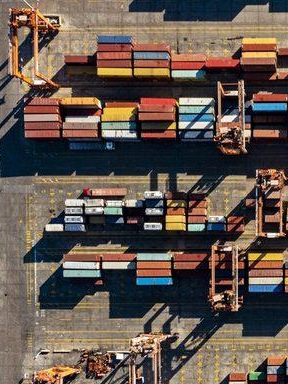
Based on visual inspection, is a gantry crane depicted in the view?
Yes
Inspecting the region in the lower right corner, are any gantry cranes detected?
Yes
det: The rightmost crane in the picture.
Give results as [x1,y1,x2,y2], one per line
[252,167,288,246]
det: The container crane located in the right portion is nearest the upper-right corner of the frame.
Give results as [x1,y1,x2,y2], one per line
[214,80,263,166]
